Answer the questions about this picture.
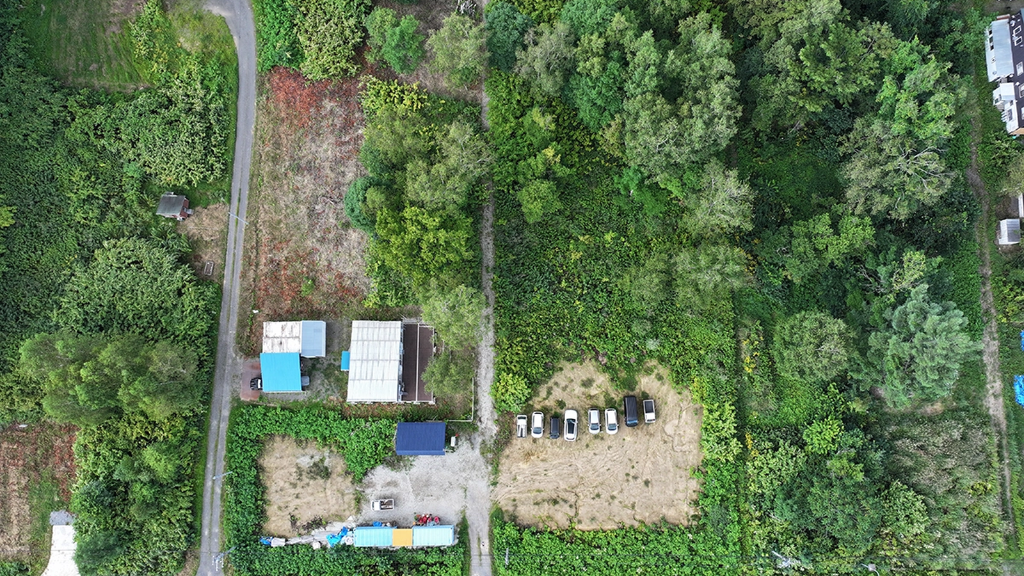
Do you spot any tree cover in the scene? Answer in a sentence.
Yes, tree cover shows up in the scene.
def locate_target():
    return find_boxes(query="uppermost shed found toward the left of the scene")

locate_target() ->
[156,190,198,218]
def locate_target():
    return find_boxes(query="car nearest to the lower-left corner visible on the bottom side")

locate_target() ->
[248,376,263,390]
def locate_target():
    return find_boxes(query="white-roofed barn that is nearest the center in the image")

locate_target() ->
[341,321,405,403]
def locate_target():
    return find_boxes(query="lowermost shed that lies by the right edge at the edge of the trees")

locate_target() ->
[991,219,1020,246]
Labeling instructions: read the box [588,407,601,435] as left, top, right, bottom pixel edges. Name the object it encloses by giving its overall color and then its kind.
white vehicle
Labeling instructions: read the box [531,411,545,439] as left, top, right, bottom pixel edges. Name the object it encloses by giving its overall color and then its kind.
white car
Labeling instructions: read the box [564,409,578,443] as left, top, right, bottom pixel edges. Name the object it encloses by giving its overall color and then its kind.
white car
